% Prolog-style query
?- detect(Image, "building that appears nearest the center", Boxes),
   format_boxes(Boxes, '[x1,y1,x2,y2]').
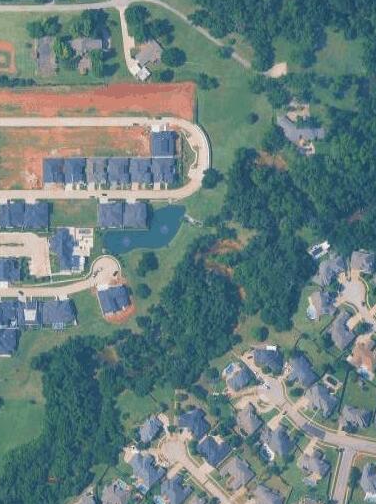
[124,202,146,228]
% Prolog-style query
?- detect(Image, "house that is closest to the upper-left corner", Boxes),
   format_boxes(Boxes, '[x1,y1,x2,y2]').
[70,35,104,69]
